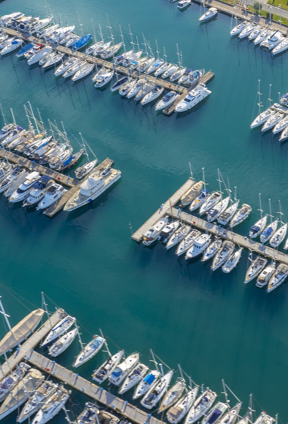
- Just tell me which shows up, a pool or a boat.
boat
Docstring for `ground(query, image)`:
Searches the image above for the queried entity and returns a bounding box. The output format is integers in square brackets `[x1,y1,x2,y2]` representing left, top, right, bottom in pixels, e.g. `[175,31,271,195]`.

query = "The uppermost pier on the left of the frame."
[1,26,188,92]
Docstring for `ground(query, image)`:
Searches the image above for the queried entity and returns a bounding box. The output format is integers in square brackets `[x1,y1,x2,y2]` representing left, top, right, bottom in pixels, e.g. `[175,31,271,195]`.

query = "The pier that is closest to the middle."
[129,180,196,241]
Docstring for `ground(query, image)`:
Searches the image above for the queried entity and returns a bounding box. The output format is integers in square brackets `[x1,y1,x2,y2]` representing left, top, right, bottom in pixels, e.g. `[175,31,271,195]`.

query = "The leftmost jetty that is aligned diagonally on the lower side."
[0,309,66,379]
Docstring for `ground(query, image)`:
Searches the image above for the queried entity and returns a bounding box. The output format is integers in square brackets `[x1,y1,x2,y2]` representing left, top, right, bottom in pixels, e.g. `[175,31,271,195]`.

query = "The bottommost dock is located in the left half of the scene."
[19,348,173,424]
